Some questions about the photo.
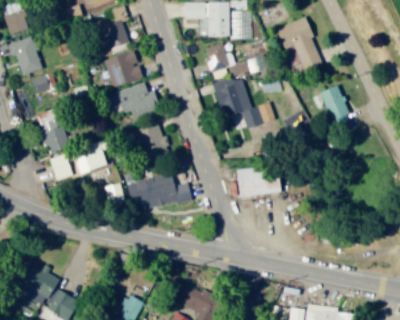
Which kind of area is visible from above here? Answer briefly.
residential area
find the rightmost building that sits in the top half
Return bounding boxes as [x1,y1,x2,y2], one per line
[321,84,352,120]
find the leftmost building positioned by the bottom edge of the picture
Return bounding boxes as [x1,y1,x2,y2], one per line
[31,268,77,320]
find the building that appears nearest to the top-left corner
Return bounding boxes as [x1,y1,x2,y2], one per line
[5,2,29,37]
